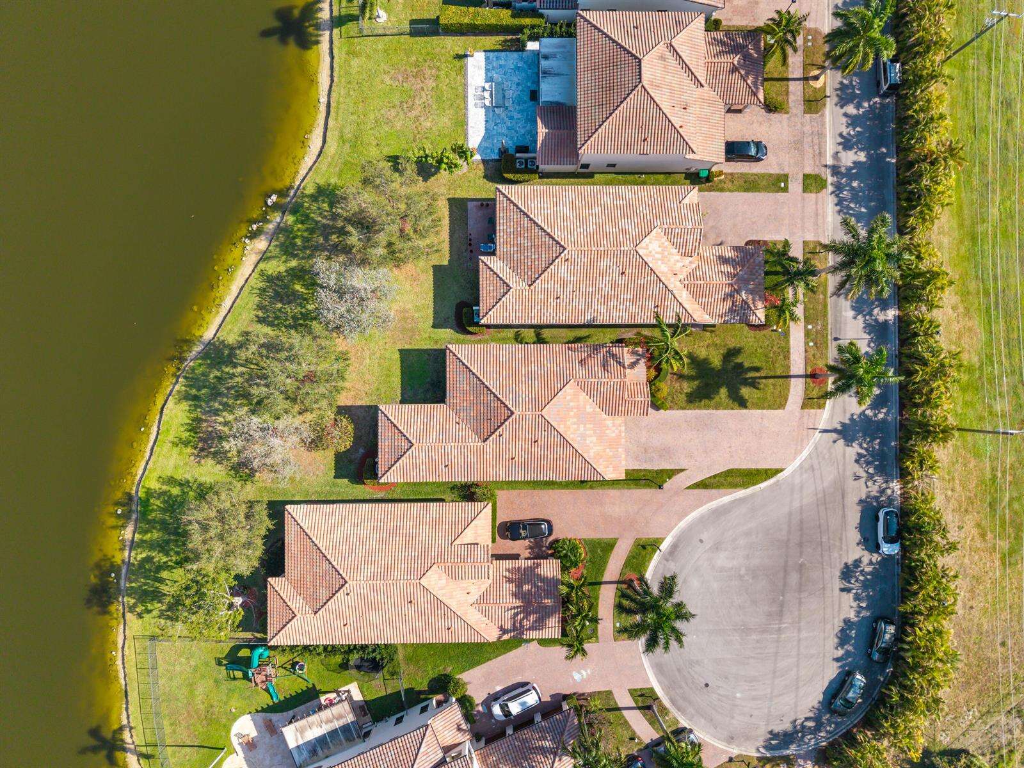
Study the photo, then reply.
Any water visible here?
Yes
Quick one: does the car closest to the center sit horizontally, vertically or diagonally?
horizontally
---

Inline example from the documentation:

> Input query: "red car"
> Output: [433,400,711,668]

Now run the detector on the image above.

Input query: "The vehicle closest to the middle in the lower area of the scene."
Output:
[506,520,554,545]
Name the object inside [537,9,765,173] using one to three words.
house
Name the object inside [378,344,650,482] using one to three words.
house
